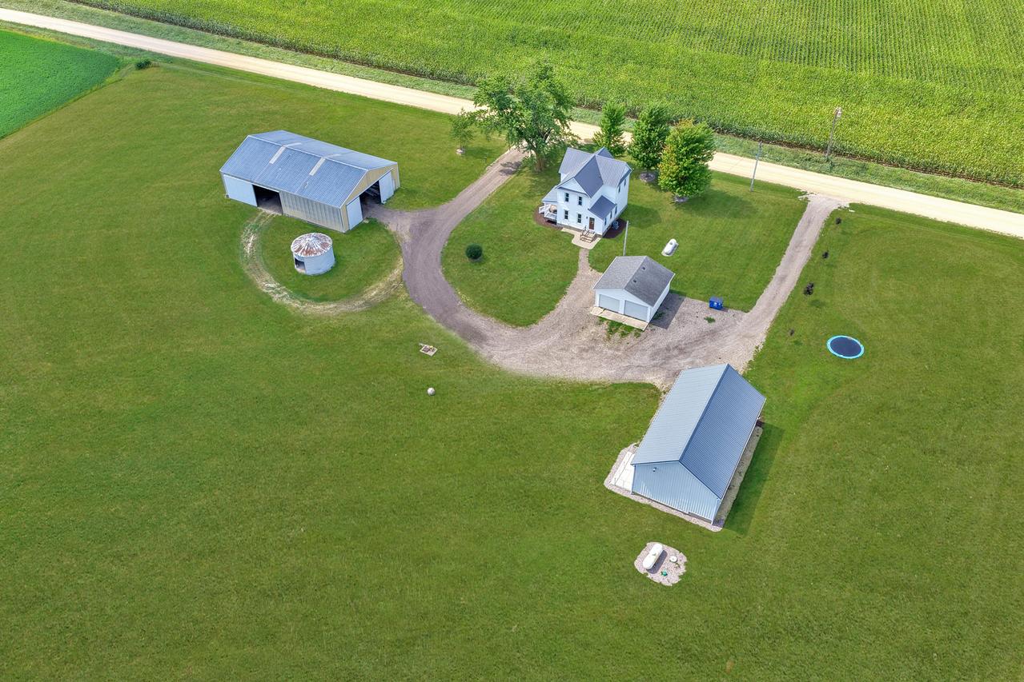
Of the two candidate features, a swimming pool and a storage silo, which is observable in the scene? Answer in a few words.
storage silo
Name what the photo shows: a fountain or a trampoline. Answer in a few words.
trampoline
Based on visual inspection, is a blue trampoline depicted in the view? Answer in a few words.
Yes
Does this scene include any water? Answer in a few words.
No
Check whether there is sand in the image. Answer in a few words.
No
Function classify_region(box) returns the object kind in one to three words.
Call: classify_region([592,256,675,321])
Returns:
building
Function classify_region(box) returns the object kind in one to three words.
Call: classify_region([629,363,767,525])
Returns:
shed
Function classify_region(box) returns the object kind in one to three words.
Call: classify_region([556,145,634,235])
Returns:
house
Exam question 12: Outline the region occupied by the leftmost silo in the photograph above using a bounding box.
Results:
[291,233,337,275]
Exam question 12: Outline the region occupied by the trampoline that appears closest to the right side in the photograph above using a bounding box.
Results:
[826,335,866,361]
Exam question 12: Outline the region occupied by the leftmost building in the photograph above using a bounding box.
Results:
[219,129,400,233]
